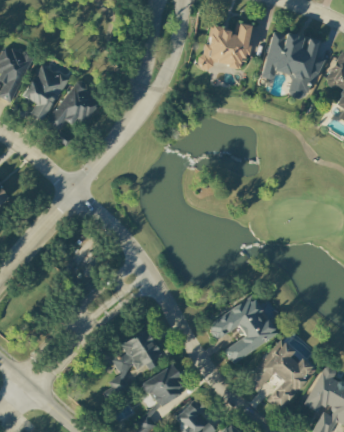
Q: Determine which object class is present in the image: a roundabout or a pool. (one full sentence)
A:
It is a pool that can be seen here.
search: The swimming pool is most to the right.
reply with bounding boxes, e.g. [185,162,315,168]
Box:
[318,104,344,140]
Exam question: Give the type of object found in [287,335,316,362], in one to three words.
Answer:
swimming pool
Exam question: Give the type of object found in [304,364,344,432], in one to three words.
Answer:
house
